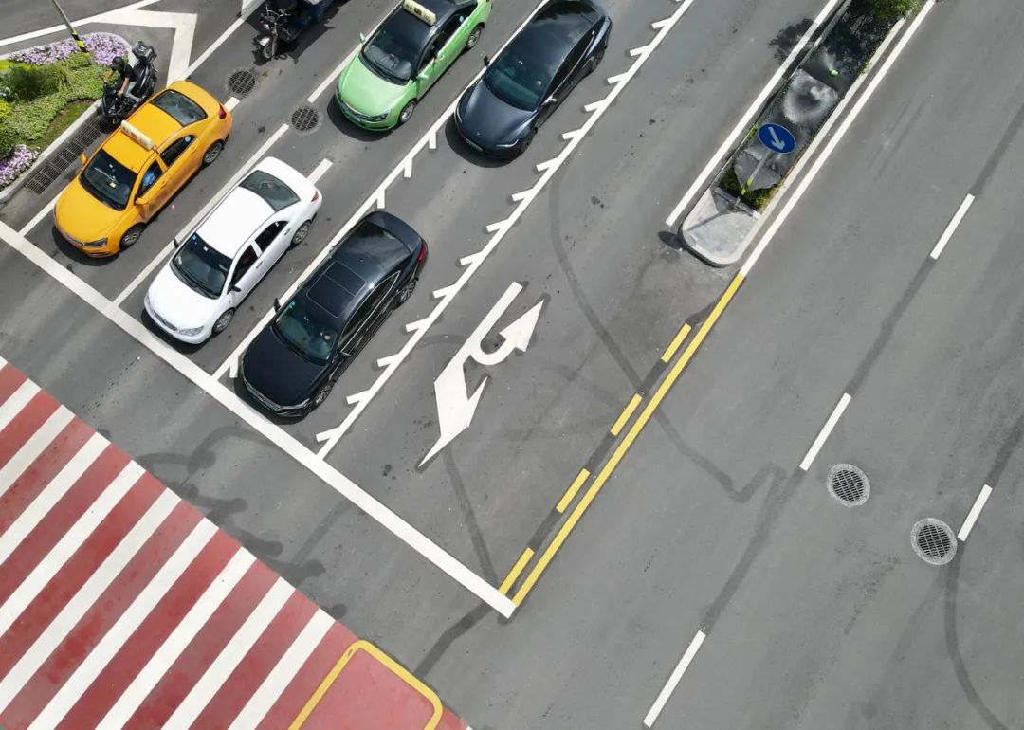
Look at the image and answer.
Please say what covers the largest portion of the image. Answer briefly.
paved ground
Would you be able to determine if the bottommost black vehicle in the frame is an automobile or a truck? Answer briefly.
automobile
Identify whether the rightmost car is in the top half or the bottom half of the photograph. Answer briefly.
top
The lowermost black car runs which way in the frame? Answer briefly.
diagonally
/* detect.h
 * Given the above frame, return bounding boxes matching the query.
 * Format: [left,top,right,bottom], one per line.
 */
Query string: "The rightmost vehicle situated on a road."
[450,0,613,162]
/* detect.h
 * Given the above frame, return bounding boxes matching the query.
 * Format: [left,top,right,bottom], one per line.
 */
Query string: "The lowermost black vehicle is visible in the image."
[237,211,431,421]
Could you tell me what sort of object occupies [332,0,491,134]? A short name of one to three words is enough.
car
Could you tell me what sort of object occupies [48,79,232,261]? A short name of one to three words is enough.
car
